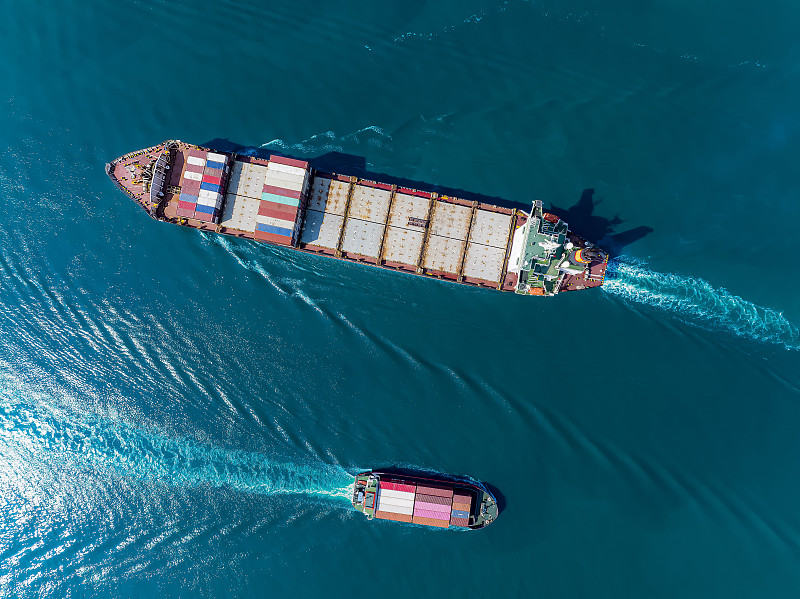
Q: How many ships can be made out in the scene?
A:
two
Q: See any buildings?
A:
No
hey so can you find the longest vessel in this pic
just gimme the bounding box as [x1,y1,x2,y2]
[104,140,609,298]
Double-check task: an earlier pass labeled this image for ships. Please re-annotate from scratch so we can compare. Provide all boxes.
[352,467,499,530]
[104,140,609,298]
